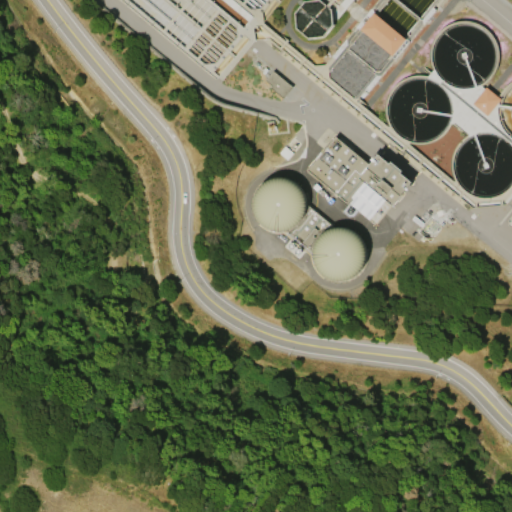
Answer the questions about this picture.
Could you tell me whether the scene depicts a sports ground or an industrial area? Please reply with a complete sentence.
This looks like an industrial area.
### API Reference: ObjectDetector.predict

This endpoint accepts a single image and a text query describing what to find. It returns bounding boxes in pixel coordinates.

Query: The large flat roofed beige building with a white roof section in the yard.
[308,136,411,225]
